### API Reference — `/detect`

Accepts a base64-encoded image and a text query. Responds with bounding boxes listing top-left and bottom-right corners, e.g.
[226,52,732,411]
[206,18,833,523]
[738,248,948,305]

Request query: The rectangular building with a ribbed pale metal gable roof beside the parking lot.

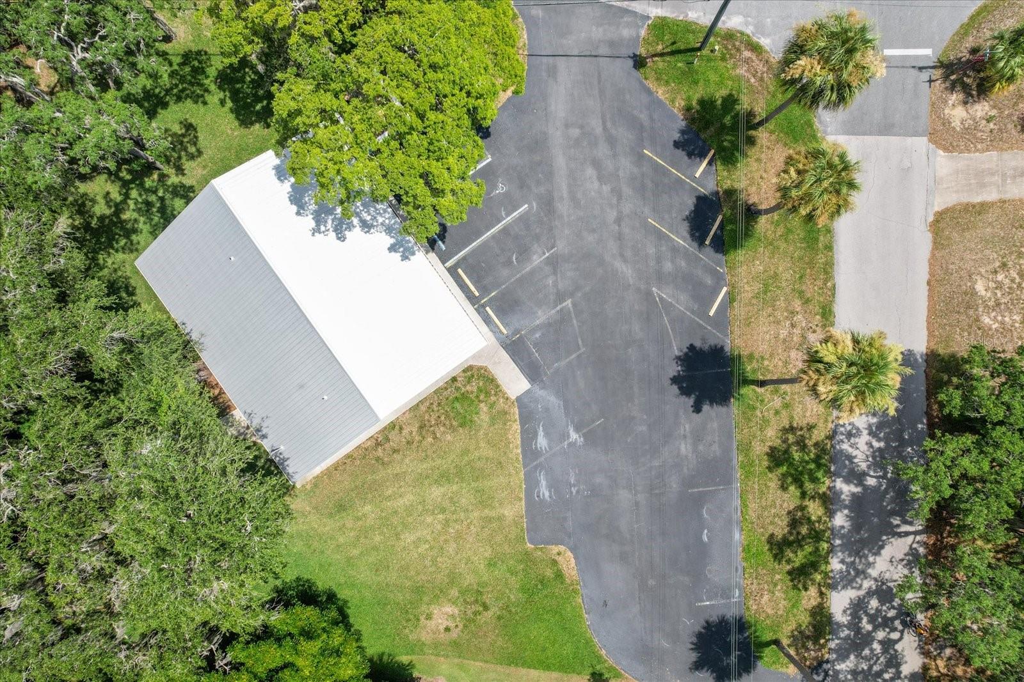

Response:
[128,121,487,486]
